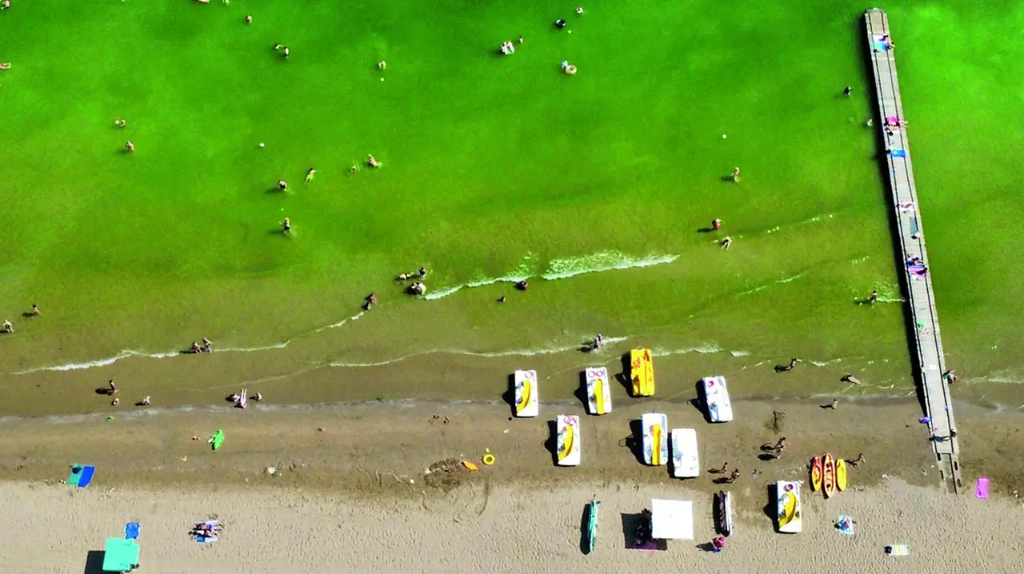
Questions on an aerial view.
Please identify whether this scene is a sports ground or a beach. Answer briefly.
beach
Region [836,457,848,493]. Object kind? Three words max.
boat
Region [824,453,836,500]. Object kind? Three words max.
boat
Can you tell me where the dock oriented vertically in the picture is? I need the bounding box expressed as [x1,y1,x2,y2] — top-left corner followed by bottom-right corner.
[864,9,965,501]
